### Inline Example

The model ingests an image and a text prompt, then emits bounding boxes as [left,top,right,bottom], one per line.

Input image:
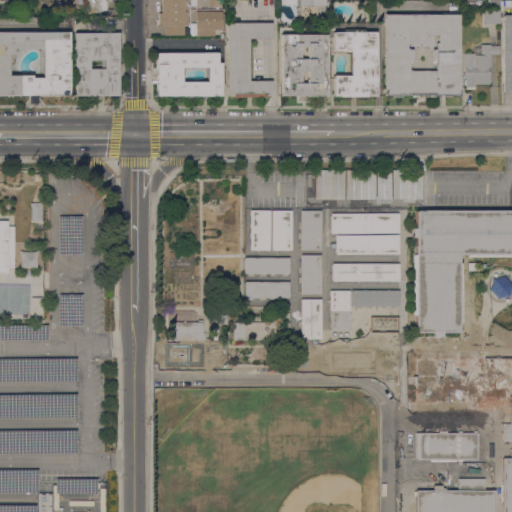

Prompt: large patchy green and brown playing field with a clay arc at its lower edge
[154,387,384,512]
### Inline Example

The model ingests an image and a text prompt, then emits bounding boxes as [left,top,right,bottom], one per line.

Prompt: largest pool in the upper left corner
[18,50,40,74]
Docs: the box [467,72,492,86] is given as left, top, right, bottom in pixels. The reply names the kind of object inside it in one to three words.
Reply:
house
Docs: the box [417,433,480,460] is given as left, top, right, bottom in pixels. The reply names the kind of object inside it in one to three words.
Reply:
building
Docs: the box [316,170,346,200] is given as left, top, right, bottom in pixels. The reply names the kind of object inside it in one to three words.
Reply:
building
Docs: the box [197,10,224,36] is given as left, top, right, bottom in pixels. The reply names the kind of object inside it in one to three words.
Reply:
house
